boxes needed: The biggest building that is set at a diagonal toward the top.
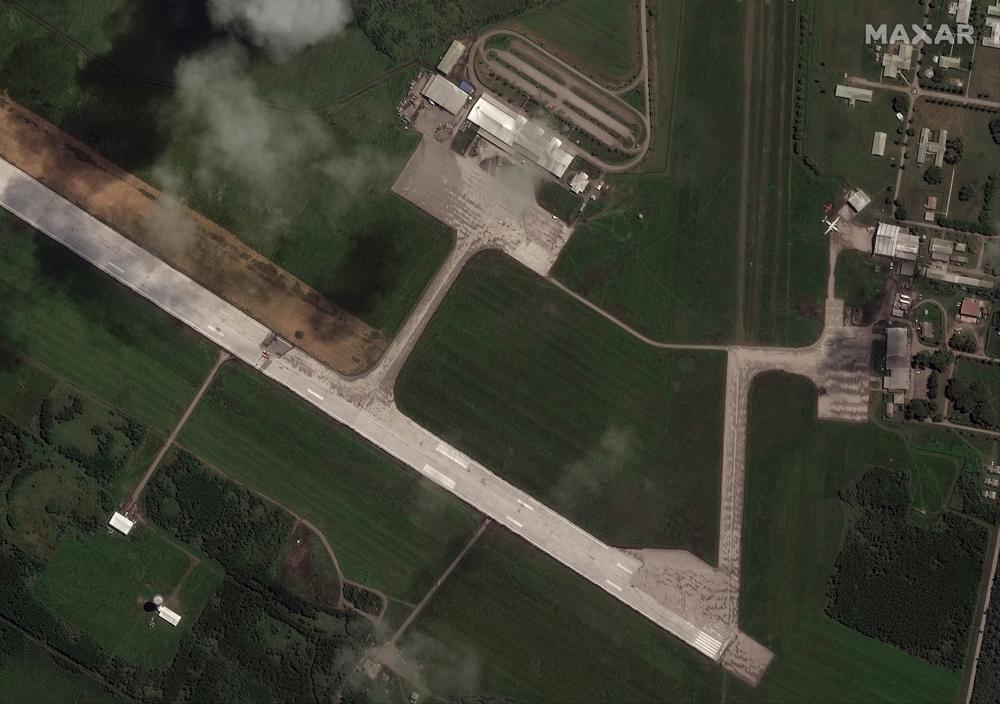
[468,93,578,181]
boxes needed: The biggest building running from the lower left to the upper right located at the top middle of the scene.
[438,40,465,77]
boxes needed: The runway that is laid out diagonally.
[0,157,732,659]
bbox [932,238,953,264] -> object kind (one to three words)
building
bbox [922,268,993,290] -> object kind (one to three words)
shed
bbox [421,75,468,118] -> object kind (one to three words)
hangar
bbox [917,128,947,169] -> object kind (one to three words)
house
